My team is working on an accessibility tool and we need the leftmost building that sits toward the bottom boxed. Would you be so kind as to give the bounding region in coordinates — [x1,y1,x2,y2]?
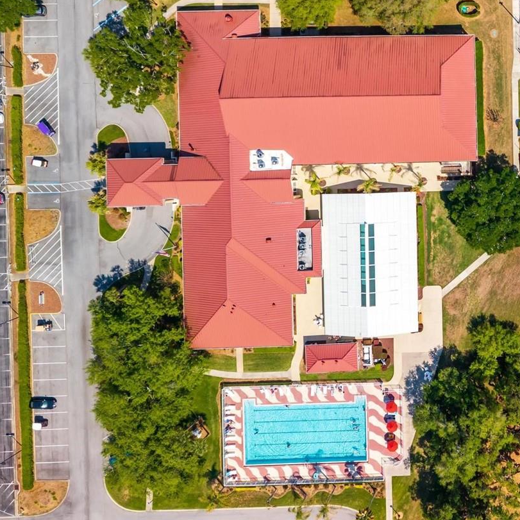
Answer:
[305,342,359,374]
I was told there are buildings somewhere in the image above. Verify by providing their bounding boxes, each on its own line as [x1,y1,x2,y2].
[305,342,359,374]
[106,9,478,350]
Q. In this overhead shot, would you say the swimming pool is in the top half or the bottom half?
bottom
